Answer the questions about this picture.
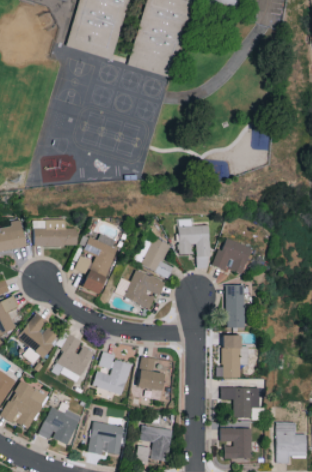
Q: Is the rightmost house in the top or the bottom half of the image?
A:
bottom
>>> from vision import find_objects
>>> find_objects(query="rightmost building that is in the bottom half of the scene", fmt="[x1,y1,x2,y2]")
[274,422,307,460]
